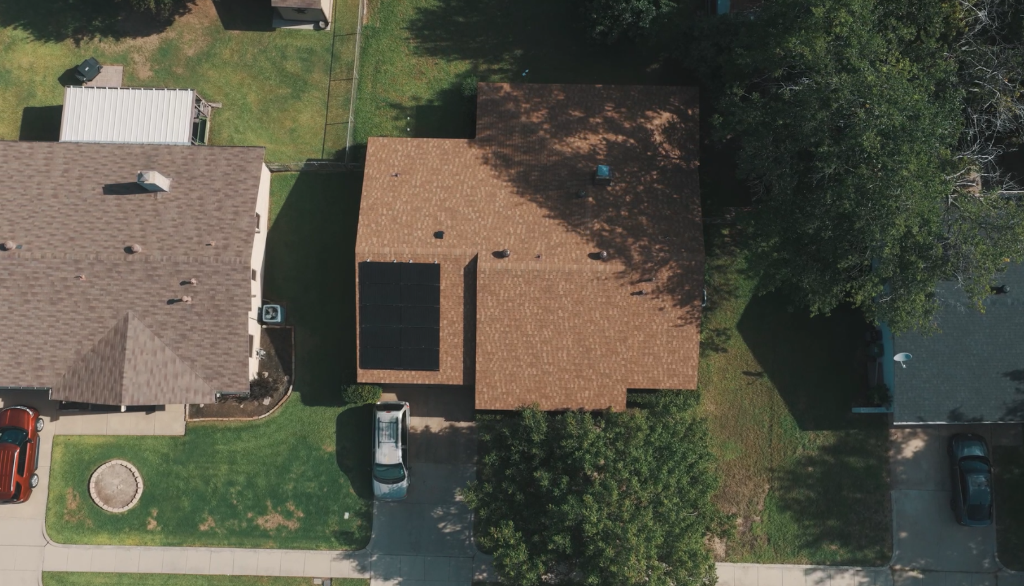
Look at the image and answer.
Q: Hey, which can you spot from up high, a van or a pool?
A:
van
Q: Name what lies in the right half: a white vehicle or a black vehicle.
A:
black vehicle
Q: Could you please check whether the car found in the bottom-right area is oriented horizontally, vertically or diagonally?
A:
vertically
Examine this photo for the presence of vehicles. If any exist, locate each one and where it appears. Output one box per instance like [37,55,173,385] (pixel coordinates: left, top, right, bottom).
[0,407,43,506]
[366,401,411,504]
[947,433,997,530]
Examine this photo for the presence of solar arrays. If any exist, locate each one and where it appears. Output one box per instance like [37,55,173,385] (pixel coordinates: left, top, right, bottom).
[358,257,439,372]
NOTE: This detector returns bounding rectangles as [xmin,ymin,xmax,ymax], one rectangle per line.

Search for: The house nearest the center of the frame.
[354,84,708,412]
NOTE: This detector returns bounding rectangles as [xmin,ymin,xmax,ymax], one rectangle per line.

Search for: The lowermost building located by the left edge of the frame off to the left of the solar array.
[0,140,269,412]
